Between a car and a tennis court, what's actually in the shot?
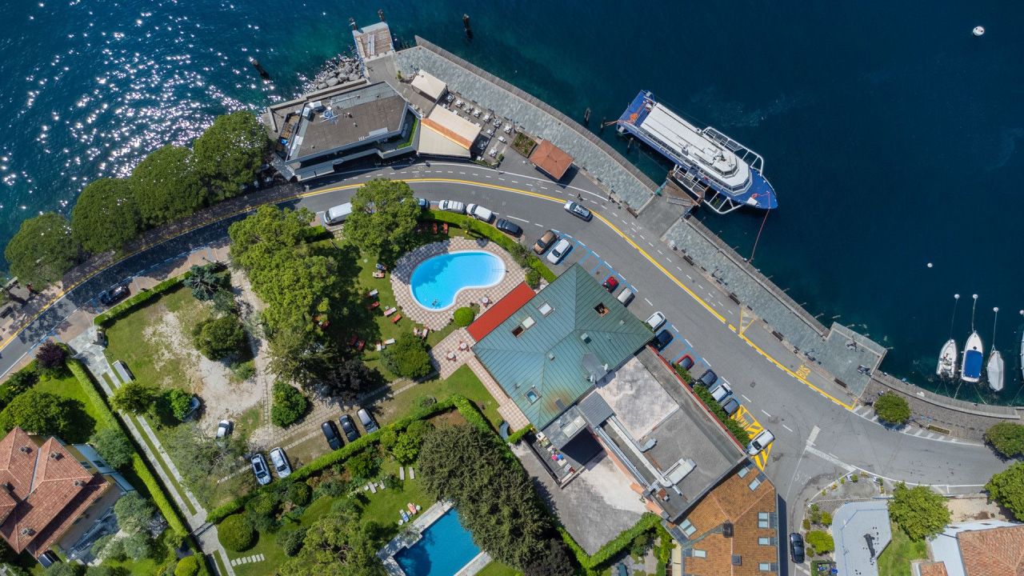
car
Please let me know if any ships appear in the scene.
Yes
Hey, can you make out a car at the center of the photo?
Yes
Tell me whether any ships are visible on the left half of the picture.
No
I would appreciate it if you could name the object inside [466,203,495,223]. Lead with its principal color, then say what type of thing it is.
white car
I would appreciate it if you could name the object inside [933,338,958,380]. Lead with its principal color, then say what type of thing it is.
white boat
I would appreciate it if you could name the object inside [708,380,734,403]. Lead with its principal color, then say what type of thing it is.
white car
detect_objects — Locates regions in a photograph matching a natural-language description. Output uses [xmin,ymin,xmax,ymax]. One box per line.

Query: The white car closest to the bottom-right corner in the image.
[745,429,773,456]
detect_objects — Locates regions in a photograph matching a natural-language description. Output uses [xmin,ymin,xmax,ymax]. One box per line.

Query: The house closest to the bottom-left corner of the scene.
[0,426,141,559]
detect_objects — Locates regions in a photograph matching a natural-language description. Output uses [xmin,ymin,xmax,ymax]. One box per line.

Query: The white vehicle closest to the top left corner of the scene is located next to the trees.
[324,202,355,223]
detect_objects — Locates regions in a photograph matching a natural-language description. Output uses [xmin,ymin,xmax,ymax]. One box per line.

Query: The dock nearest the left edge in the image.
[351,22,396,80]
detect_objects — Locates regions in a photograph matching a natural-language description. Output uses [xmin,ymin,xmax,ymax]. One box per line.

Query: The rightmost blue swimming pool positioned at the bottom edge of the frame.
[378,501,492,576]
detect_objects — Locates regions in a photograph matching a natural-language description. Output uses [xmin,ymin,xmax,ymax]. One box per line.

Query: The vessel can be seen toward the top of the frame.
[617,90,779,214]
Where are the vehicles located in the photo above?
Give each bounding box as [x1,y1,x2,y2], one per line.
[183,395,203,419]
[358,406,378,433]
[320,420,344,448]
[251,454,272,484]
[692,365,719,388]
[644,308,667,332]
[616,286,635,305]
[217,419,232,444]
[495,218,521,238]
[466,203,495,223]
[324,202,355,223]
[547,238,572,264]
[563,200,592,222]
[533,230,558,254]
[745,429,773,456]
[438,199,468,213]
[708,380,734,403]
[721,394,743,416]
[270,446,292,475]
[650,328,674,352]
[340,413,361,441]
[788,532,804,563]
[679,352,696,369]
[602,273,621,293]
